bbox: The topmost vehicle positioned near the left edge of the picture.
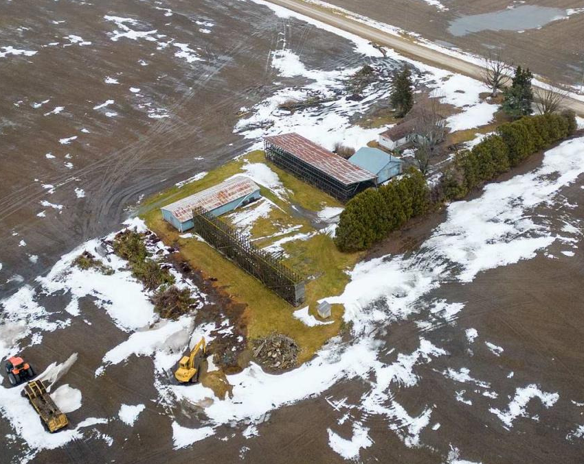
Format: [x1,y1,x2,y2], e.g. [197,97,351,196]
[6,357,39,388]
